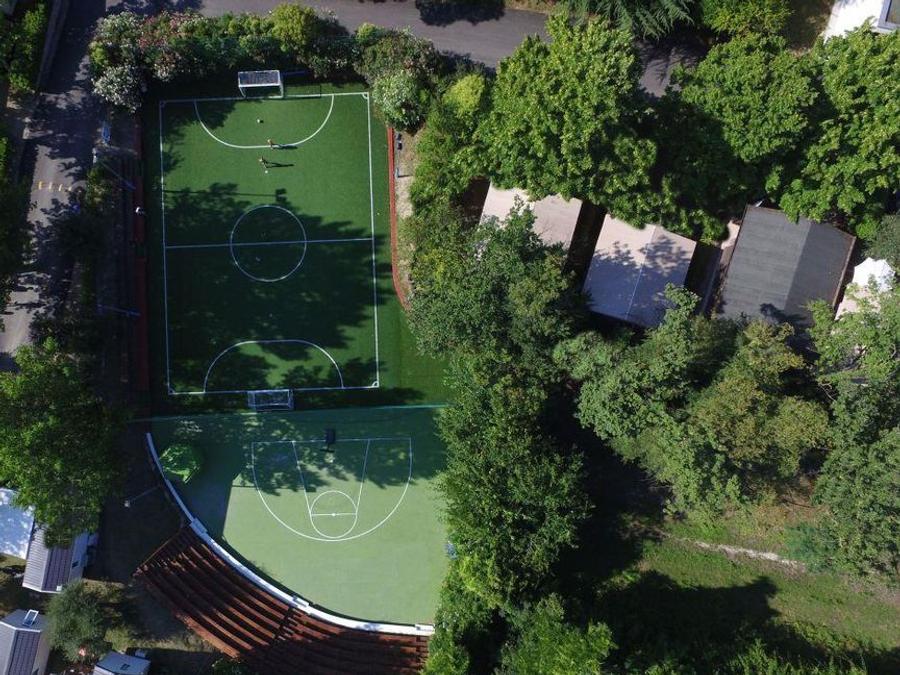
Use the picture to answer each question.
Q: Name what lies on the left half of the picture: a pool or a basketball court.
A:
basketball court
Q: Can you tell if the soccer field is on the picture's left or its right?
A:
left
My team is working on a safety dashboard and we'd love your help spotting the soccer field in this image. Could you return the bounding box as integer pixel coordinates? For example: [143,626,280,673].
[146,67,454,420]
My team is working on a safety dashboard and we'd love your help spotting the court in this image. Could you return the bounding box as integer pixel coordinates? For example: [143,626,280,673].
[147,407,461,628]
